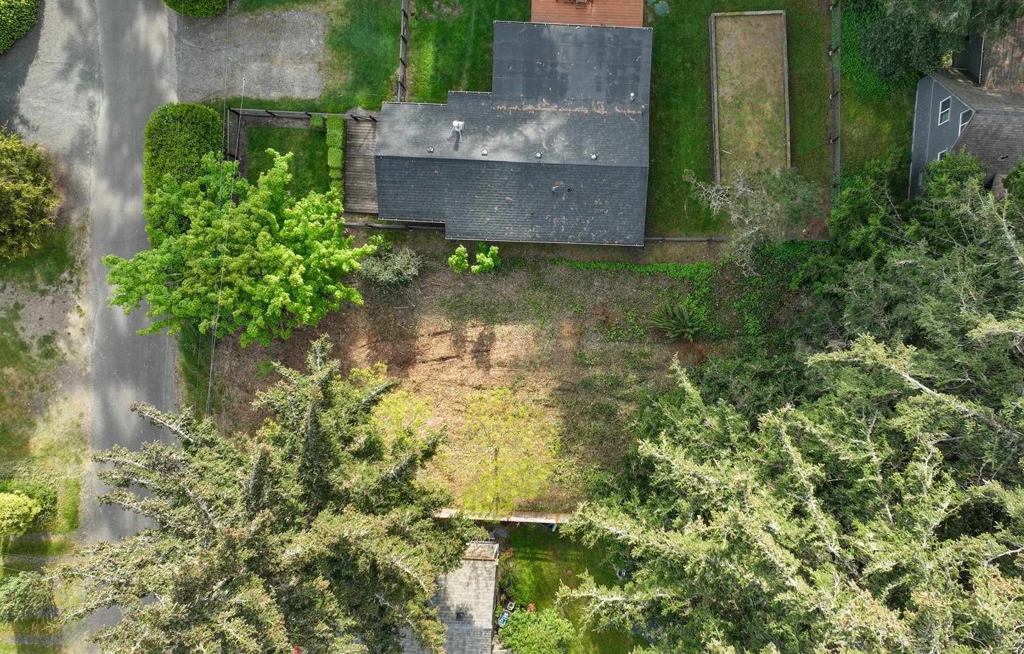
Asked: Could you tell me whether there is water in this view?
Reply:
No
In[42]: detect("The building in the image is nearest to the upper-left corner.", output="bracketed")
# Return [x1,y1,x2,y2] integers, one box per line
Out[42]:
[372,20,651,251]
